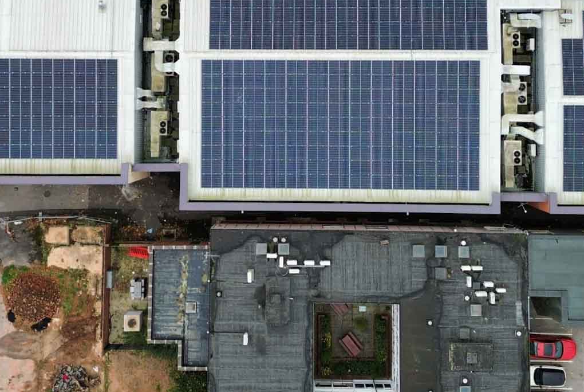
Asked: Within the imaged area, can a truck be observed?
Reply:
No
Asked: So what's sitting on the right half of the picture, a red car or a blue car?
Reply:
red car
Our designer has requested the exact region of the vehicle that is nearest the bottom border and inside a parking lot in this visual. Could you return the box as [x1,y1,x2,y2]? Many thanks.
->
[530,363,568,390]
